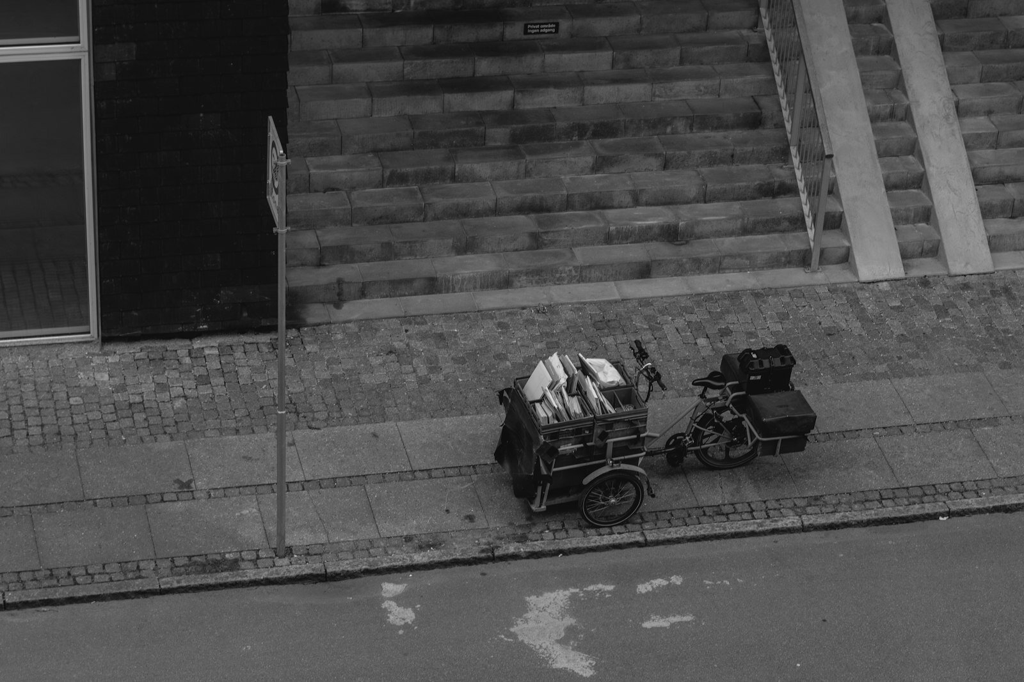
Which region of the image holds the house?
top left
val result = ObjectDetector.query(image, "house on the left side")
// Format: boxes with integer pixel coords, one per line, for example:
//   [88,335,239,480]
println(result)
[0,0,291,350]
